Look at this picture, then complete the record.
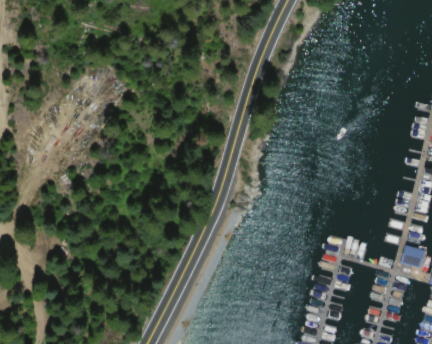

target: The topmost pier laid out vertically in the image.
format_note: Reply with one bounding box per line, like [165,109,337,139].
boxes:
[385,108,432,265]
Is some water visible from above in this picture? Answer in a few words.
Yes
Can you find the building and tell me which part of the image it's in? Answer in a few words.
bottom right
